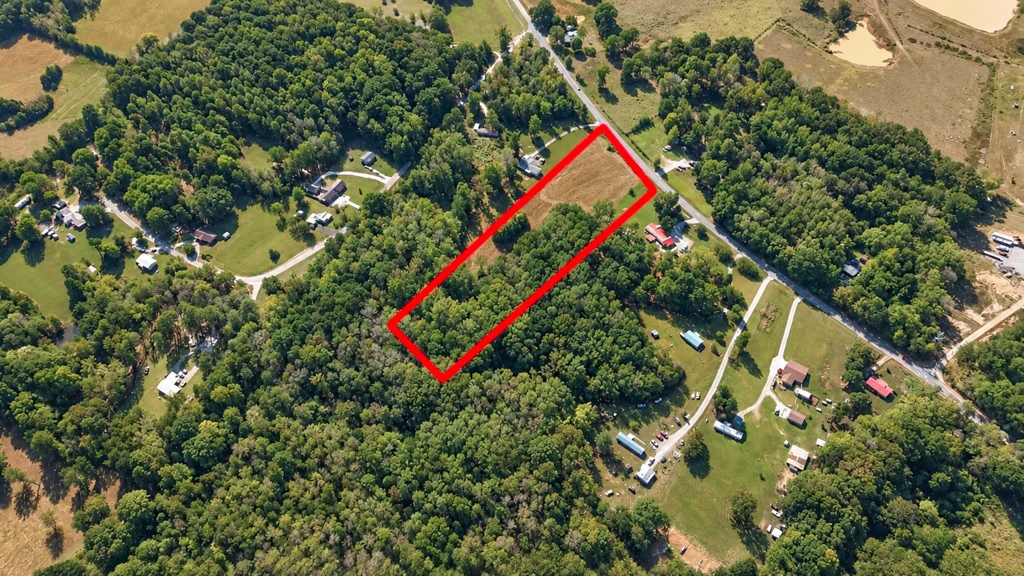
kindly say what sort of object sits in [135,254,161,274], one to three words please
barn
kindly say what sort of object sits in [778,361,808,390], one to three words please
house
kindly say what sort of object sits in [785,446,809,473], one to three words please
barn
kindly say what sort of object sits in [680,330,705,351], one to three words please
house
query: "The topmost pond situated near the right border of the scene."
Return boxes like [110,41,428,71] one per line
[912,0,1019,32]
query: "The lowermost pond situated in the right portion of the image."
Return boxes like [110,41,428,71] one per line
[829,21,894,66]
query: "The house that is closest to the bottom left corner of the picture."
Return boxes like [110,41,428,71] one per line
[159,374,184,396]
